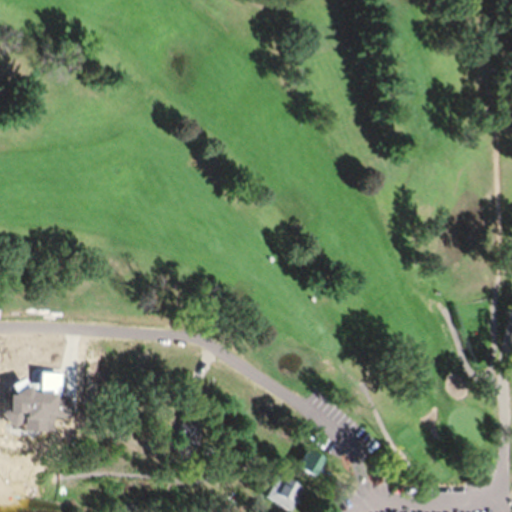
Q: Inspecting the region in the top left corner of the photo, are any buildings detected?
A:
No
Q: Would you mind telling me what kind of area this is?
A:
golf course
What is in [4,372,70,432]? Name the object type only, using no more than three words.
house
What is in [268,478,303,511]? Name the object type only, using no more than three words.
house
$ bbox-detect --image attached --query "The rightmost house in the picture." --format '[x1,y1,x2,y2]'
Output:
[305,452,326,479]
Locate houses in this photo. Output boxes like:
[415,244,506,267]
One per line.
[305,452,326,479]
[4,372,70,432]
[268,478,303,511]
